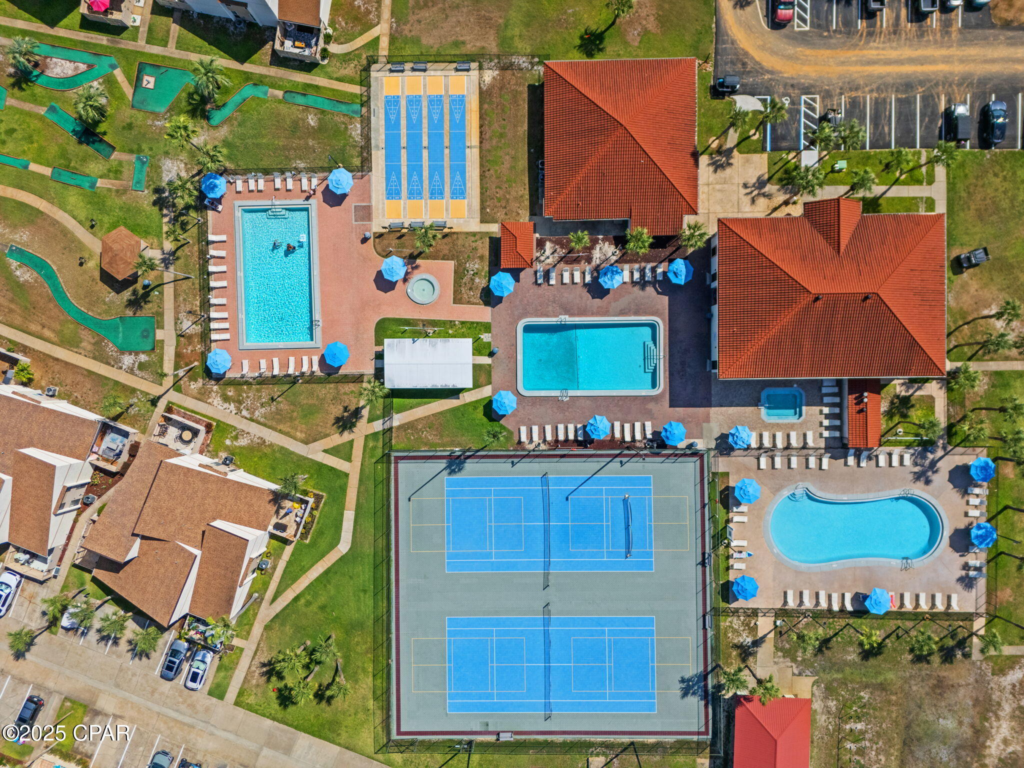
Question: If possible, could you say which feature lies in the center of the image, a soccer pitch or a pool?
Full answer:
Visible in the center of the image is a pool.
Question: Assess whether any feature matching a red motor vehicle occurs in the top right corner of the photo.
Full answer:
Yes, in the top right corner of the photo there is a red motor vehicle.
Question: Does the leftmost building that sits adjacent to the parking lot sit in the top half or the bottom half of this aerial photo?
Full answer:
It is in the top half that the leftmost building that sits adjacent to the parking lot appears.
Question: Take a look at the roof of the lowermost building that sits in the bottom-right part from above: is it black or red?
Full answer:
The roof of the lowermost building that sits in the bottom-right part is red.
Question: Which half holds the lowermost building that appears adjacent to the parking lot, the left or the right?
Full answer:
The lowermost building that appears adjacent to the parking lot sits on the right side.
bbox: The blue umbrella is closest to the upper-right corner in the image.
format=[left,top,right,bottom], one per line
[668,258,694,284]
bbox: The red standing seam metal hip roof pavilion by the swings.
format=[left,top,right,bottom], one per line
[730,690,812,768]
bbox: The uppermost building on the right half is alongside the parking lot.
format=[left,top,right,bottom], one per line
[543,56,700,239]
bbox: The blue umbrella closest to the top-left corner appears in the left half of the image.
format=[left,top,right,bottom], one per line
[203,174,229,200]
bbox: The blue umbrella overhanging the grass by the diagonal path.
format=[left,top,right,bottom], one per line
[492,389,517,414]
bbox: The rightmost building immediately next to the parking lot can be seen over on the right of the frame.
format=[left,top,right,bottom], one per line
[706,197,948,379]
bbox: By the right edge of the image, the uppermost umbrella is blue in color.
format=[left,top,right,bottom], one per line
[966,457,994,483]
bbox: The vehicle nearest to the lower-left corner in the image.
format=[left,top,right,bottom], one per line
[11,697,41,741]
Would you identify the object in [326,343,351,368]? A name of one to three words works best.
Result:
umbrella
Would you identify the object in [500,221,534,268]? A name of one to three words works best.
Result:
building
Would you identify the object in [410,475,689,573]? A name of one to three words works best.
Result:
tennis court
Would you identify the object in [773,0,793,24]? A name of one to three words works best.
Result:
car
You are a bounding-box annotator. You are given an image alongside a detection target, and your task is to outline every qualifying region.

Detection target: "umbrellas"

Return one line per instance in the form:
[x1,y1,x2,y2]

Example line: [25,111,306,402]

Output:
[329,169,355,196]
[966,457,994,483]
[966,521,995,547]
[726,423,753,450]
[668,258,694,284]
[730,574,757,600]
[598,266,623,291]
[492,389,517,414]
[585,416,610,441]
[381,255,406,280]
[326,343,351,368]
[208,350,233,375]
[732,479,759,505]
[864,589,889,613]
[487,270,513,297]
[663,420,688,446]
[203,174,229,200]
